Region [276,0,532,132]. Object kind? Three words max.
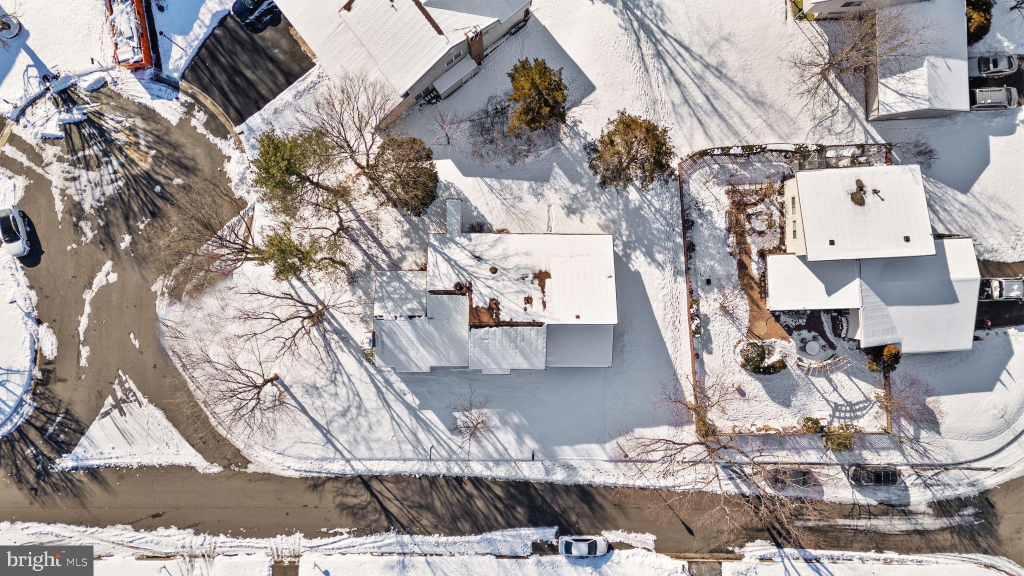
house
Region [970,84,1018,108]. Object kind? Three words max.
car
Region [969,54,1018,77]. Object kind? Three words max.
car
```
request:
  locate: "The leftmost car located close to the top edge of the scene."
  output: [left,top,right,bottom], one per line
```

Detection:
[231,0,276,28]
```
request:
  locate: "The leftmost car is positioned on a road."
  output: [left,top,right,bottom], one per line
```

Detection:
[0,205,29,256]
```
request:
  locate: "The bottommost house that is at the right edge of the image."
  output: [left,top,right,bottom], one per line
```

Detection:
[757,164,981,354]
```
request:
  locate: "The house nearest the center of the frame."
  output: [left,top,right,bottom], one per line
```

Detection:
[364,199,618,375]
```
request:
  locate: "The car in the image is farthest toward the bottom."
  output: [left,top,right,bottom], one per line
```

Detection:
[559,534,608,557]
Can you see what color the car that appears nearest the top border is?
black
